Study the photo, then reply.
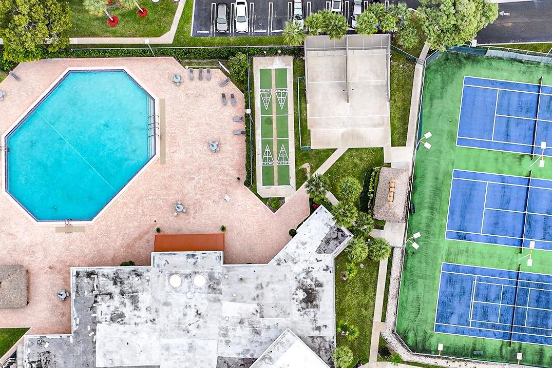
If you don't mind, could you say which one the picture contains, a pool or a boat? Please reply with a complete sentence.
This aerial view contains a pool.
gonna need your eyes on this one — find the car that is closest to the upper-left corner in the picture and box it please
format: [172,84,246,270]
[215,1,229,34]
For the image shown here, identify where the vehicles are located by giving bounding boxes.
[329,0,343,15]
[349,0,363,29]
[215,1,229,34]
[233,0,248,32]
[291,0,305,28]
